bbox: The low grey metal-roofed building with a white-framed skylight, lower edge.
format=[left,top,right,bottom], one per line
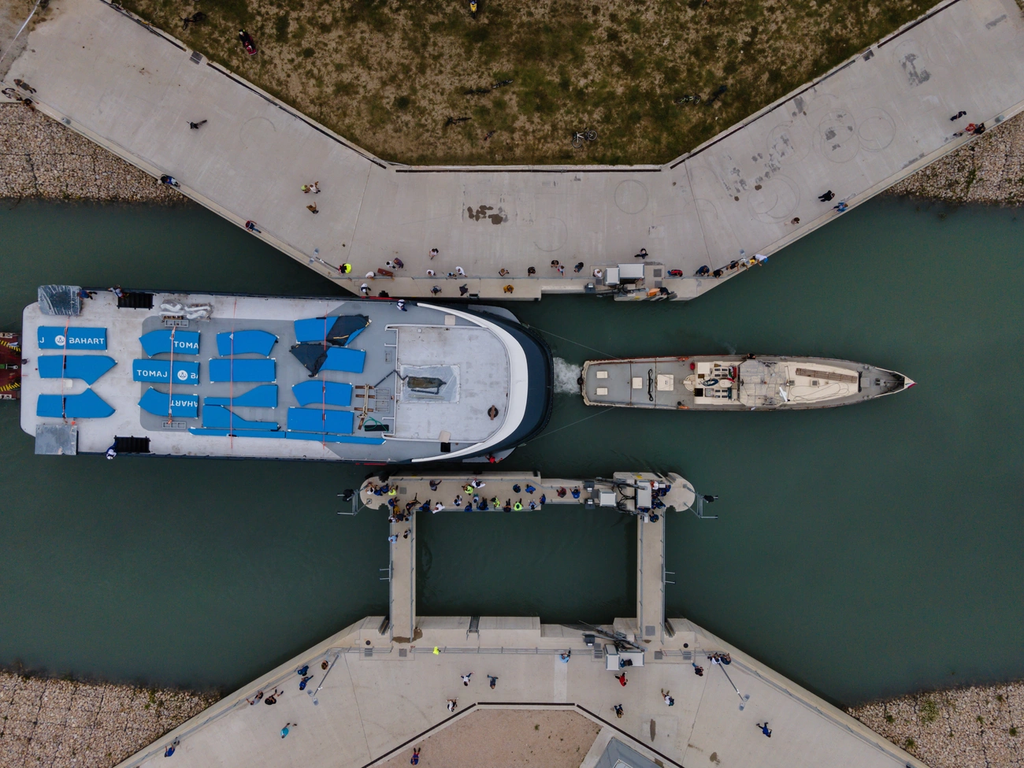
[594,736,666,768]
